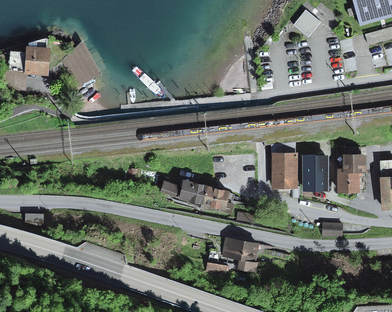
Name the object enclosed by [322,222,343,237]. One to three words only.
shed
